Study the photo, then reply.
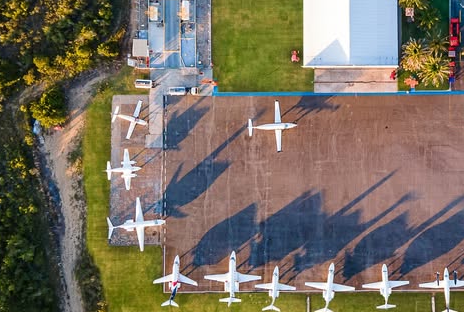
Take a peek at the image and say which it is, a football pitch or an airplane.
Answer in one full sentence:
This aerial view contains an airplane.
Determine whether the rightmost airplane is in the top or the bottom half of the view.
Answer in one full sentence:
It is in the bottom half that the rightmost airplane appears.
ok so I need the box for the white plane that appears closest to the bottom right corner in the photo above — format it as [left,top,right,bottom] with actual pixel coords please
[418,269,464,312]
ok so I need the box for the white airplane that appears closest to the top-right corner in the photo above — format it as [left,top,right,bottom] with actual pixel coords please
[248,100,298,153]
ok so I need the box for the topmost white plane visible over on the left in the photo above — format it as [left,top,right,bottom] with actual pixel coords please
[112,99,148,140]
